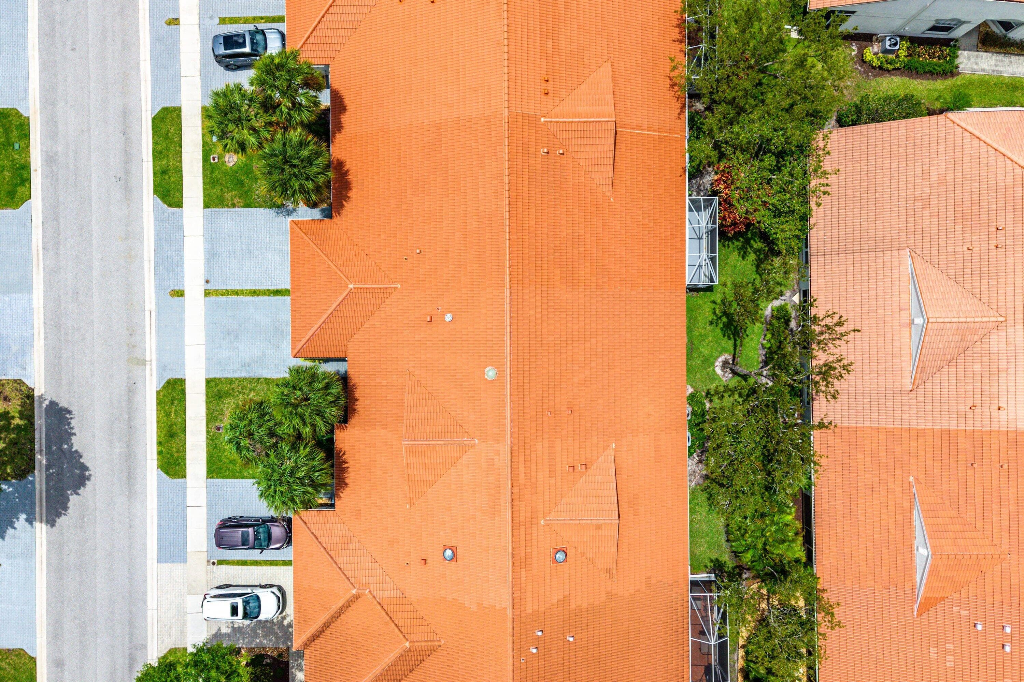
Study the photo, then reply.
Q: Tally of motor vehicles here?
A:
3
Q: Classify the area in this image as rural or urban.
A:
urban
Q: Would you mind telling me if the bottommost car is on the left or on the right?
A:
left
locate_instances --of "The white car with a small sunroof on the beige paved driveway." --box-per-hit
[200,586,284,630]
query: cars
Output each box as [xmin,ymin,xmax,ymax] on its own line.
[206,22,281,70]
[200,586,284,630]
[213,518,294,560]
